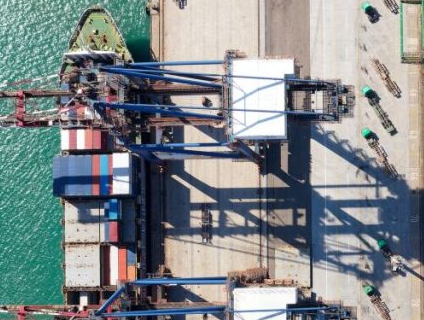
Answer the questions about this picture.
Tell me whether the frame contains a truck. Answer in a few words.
Yes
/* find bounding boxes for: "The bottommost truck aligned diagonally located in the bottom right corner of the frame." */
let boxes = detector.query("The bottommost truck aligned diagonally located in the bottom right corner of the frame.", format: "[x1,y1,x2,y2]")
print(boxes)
[363,284,393,320]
